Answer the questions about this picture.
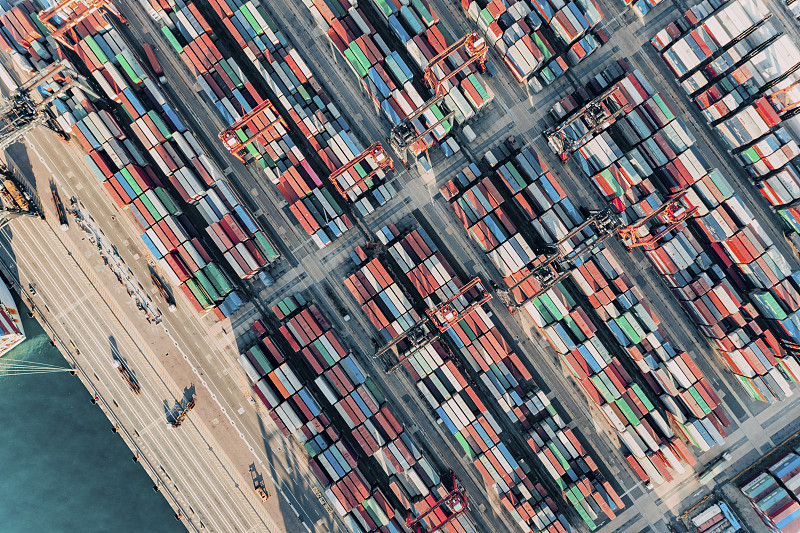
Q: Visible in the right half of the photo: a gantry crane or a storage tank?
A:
gantry crane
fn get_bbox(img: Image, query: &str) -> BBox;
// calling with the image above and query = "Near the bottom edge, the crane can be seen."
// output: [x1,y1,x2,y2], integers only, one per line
[405,461,475,533]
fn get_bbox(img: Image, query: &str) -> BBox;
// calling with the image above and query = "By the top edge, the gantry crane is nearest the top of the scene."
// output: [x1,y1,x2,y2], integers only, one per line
[32,0,132,64]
